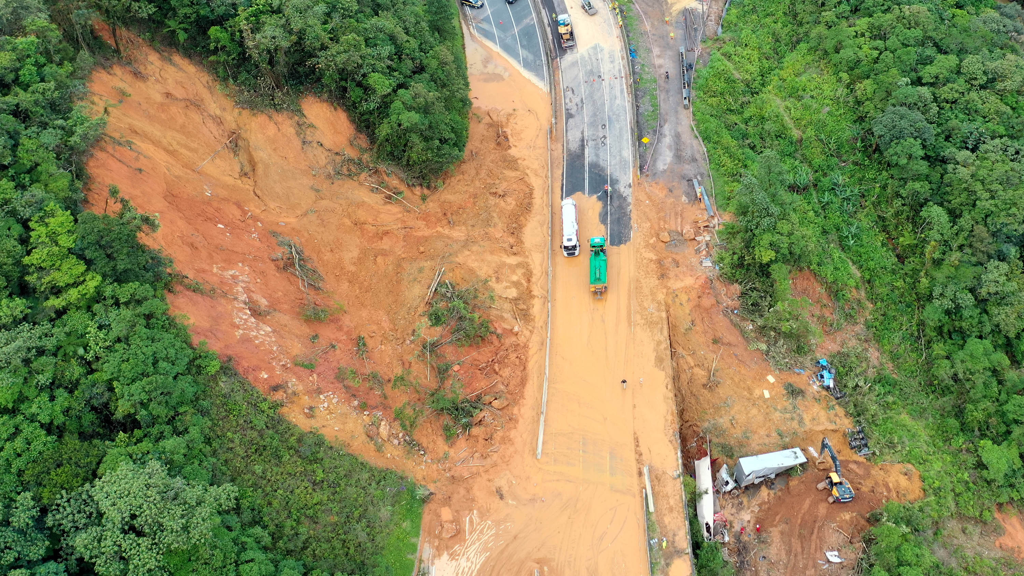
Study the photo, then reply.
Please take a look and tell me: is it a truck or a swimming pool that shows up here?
truck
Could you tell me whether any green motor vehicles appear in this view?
Yes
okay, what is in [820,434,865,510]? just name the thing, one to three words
work vehicle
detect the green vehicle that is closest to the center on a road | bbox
[587,236,612,304]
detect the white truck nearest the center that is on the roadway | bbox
[561,199,582,255]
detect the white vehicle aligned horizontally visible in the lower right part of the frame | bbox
[715,447,806,489]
